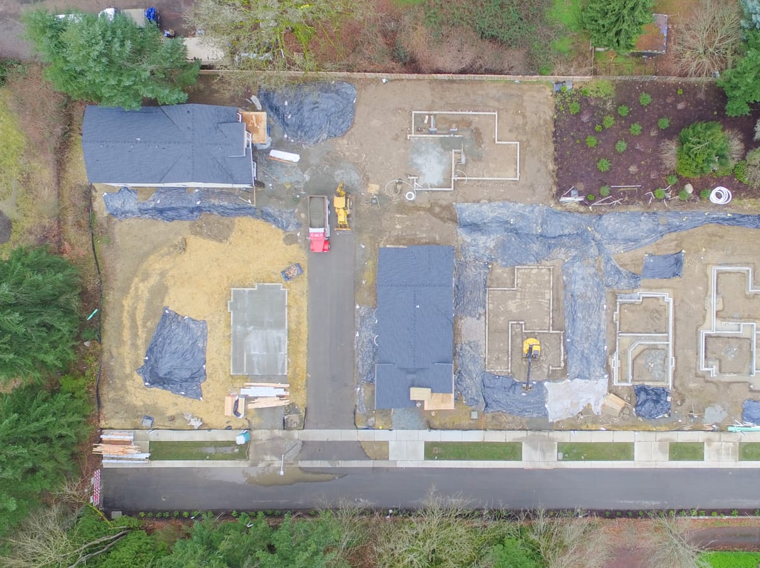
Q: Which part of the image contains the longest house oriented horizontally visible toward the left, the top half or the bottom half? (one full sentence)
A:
Seen from above, the longest house oriented horizontally visible toward the left lies in the top half of the view.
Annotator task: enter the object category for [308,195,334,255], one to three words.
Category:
truck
